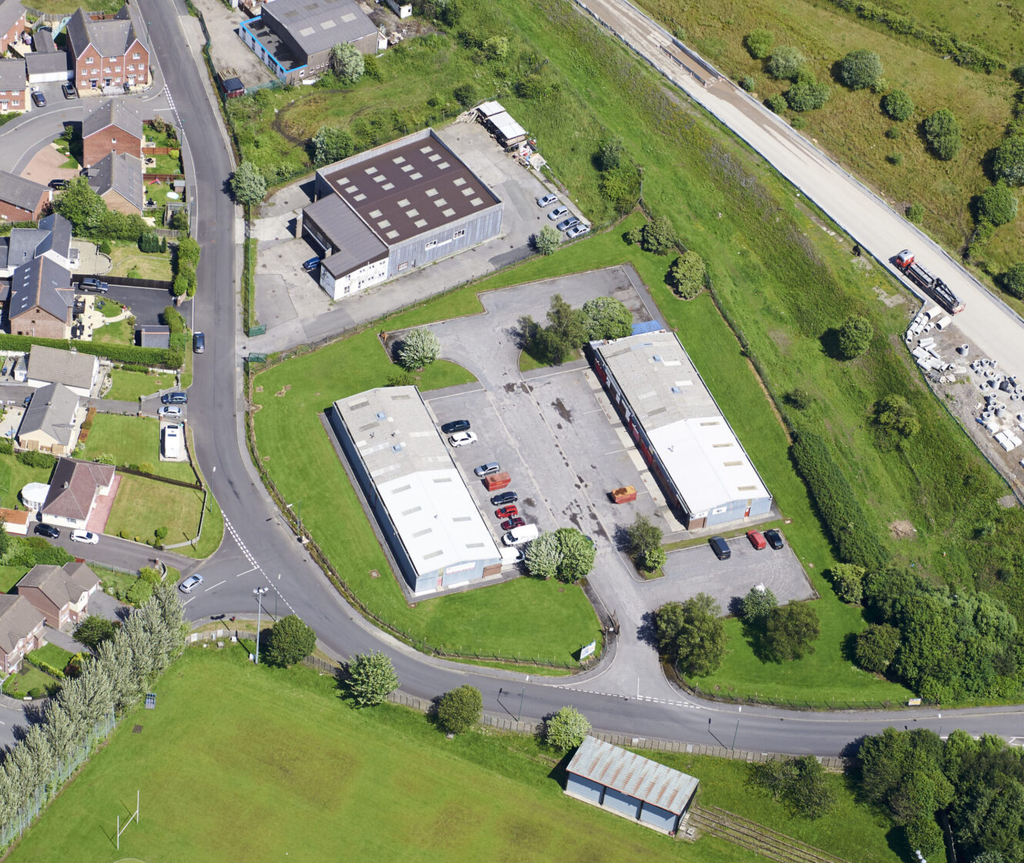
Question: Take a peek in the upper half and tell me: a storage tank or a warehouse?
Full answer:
Visible in the upper half is a warehouse.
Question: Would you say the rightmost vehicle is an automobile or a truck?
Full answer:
The rightmost vehicle can be classified as a truck.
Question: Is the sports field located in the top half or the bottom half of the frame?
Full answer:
The bottom half of the photo is where the sports field is.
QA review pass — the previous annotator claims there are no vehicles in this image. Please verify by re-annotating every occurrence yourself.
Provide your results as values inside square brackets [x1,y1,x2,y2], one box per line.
[155,404,184,418]
[566,221,593,238]
[70,527,98,543]
[165,421,180,456]
[896,251,965,310]
[537,191,561,206]
[60,77,78,98]
[494,502,521,519]
[29,87,49,105]
[500,515,529,532]
[161,391,189,405]
[504,520,541,544]
[709,534,732,559]
[497,543,529,564]
[193,331,206,350]
[474,460,501,477]
[33,522,61,538]
[556,214,582,230]
[746,526,768,549]
[78,277,108,294]
[547,203,571,220]
[300,256,324,271]
[491,490,518,507]
[764,527,784,548]
[442,418,471,433]
[450,432,479,448]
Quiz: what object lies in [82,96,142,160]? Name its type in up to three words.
house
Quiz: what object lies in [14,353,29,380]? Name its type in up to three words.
shed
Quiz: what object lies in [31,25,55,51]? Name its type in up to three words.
building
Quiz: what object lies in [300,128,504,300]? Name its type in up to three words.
warehouse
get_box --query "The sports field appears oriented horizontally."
[0,652,699,863]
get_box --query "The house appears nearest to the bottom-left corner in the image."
[0,596,50,694]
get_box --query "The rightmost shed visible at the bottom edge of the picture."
[559,736,700,837]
